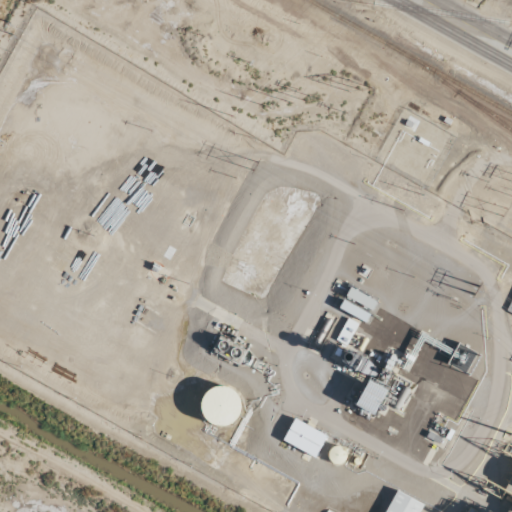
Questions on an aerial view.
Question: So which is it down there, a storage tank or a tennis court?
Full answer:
The one in the frame is a storage tank.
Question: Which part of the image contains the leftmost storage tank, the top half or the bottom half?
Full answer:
You can find the leftmost storage tank in the bottom half.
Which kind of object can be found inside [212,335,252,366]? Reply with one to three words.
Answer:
cooling tower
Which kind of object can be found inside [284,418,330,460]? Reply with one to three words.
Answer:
building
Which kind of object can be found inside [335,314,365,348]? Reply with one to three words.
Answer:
building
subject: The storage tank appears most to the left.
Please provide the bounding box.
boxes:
[200,380,250,430]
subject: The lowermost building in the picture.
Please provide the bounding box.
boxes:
[386,484,428,512]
